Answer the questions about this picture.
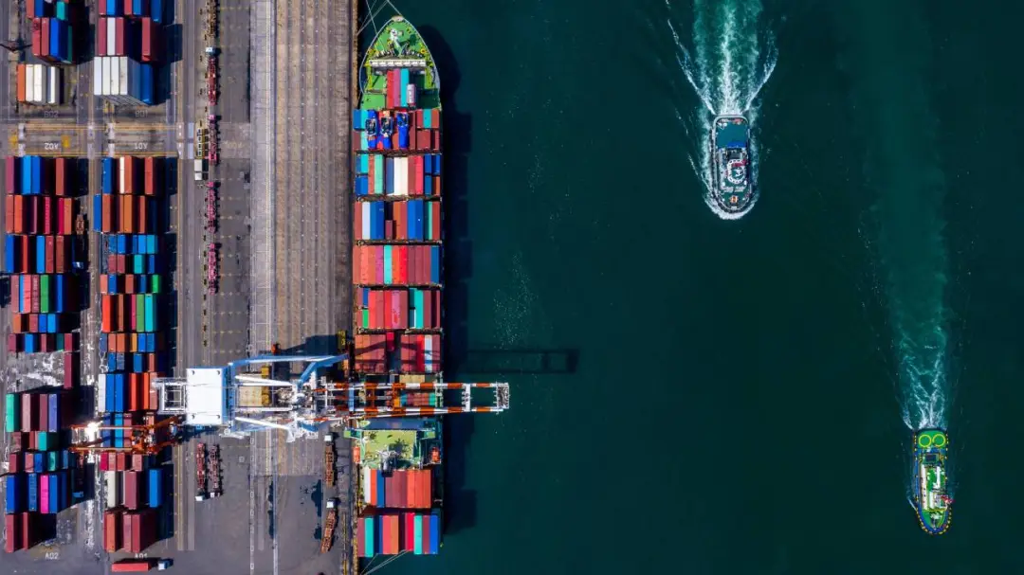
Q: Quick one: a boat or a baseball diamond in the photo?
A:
boat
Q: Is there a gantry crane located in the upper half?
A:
No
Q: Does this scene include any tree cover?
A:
No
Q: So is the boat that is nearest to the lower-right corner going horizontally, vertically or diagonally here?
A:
vertically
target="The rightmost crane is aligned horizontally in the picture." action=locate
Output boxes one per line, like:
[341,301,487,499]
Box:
[150,338,510,445]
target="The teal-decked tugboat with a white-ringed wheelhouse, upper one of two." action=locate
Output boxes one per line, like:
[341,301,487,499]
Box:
[711,117,751,216]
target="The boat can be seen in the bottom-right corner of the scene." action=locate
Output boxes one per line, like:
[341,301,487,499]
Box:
[912,430,956,536]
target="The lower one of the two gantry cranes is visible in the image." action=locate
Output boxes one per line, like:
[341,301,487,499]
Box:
[71,412,184,460]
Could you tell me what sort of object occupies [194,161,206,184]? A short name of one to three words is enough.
vehicle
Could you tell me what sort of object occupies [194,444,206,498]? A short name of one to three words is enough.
vehicle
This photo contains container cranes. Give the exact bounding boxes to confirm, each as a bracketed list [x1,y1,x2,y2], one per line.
[150,338,510,445]
[71,412,184,460]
